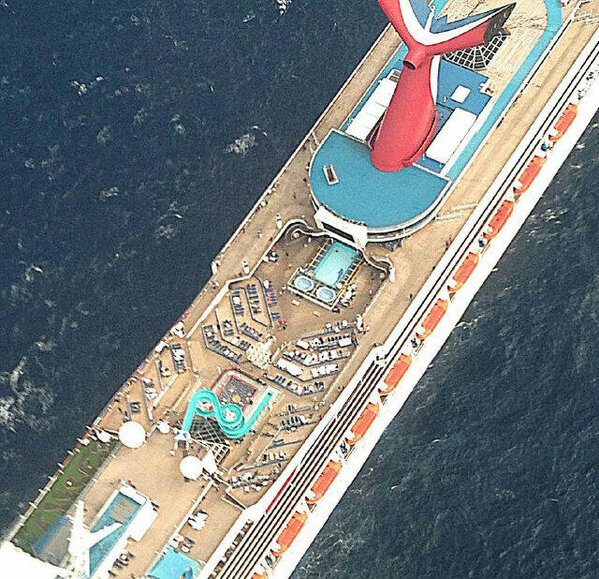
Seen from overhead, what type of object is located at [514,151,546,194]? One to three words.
boat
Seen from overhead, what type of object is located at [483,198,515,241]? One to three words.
boat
